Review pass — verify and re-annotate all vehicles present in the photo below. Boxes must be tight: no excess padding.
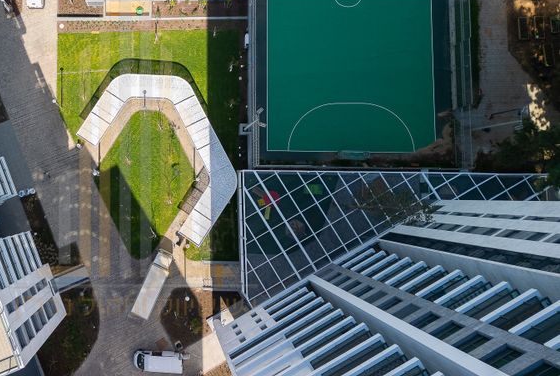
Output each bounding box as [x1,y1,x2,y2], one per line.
[24,0,42,6]
[134,349,187,376]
